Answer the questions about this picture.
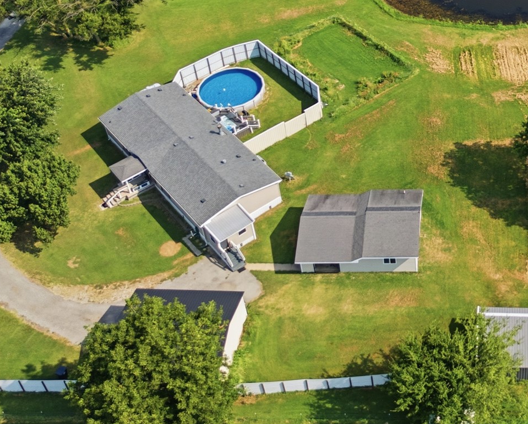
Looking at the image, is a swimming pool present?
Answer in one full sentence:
Yes, a swimming pool appears in the view.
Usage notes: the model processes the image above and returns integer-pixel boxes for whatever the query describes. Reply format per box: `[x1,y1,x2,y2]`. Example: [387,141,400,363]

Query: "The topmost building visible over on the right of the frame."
[293,190,424,278]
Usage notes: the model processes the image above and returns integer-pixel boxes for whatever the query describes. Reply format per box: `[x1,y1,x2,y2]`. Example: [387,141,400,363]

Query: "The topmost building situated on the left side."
[95,82,285,272]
